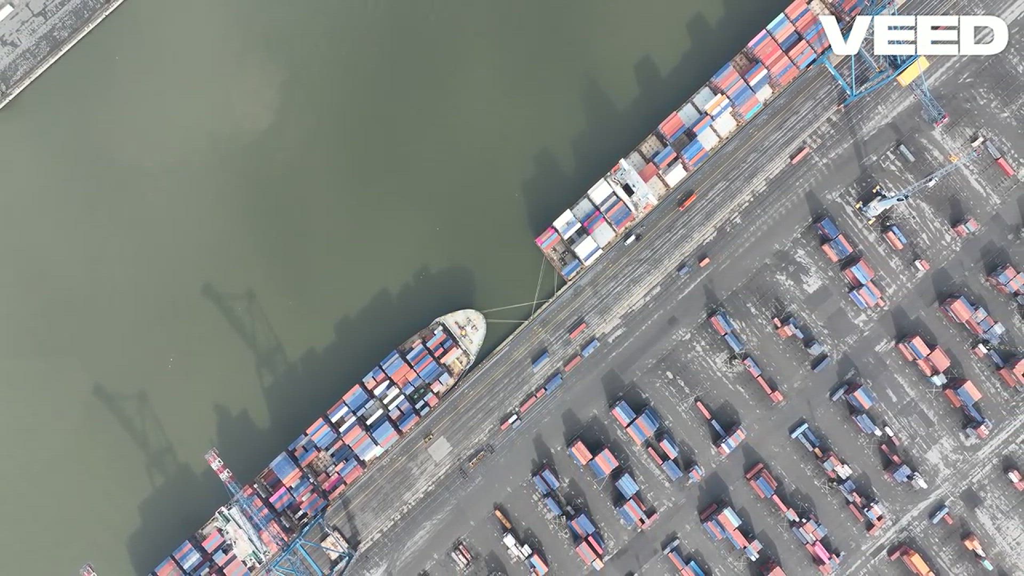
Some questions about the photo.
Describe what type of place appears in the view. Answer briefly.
port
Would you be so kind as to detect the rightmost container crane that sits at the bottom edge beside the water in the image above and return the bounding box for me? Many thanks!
[206,450,361,576]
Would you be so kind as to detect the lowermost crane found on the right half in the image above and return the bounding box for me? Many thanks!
[856,145,983,224]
